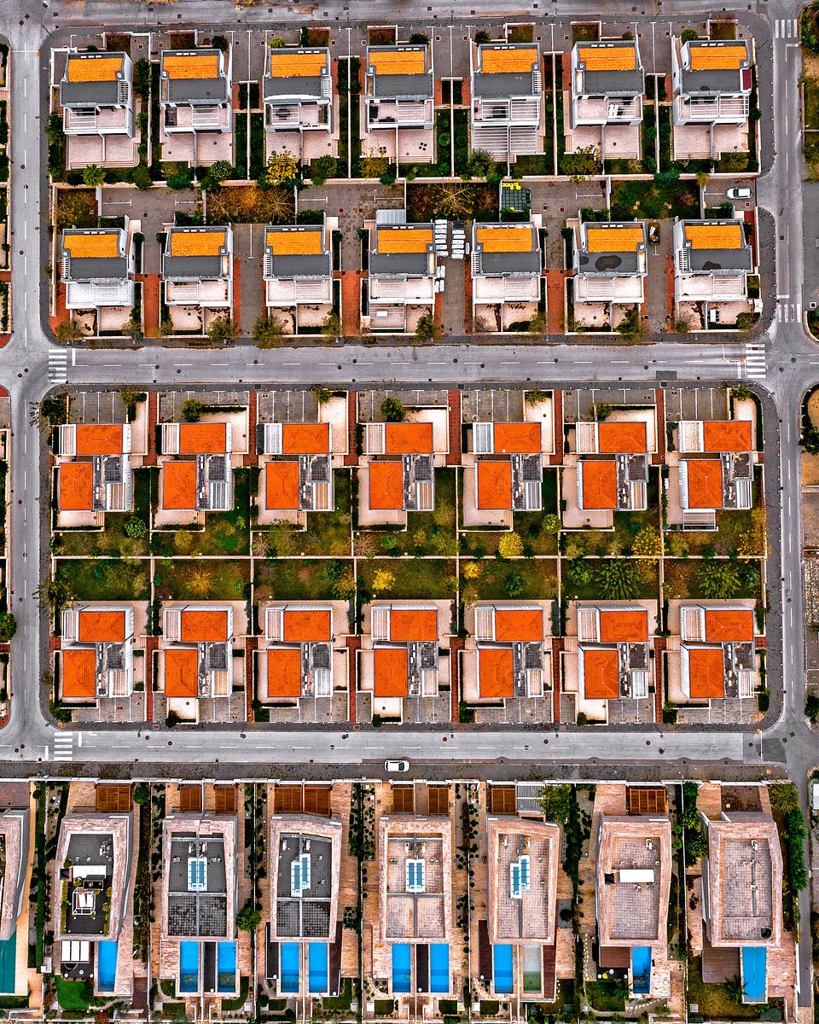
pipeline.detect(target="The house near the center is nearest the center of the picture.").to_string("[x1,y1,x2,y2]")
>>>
[355,422,440,527]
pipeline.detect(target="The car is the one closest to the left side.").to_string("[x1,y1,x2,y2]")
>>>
[385,761,408,773]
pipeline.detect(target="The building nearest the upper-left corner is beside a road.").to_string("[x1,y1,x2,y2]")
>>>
[61,52,139,170]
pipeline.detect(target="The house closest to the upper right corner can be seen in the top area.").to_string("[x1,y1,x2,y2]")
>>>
[676,40,750,158]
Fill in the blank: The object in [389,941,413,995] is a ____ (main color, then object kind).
blue swimming pool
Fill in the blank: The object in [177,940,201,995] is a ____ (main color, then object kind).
blue swimming pool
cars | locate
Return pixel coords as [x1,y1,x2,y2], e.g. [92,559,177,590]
[728,187,752,198]
[385,761,408,773]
